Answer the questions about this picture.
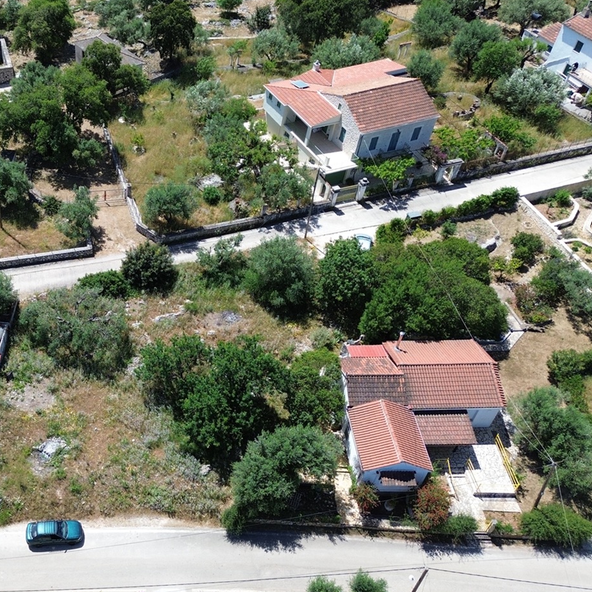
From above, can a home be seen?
Yes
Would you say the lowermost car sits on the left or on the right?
left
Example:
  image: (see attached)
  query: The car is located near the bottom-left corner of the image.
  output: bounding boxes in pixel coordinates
[24,521,83,552]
